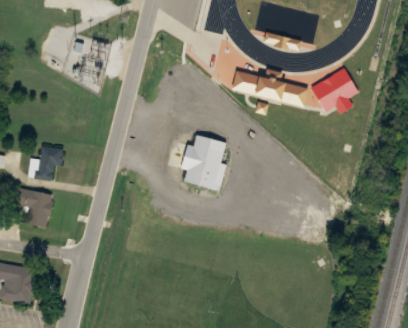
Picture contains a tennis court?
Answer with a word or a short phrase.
No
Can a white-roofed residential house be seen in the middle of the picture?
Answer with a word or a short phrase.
Yes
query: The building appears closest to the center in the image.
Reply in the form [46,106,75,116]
[182,136,228,192]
